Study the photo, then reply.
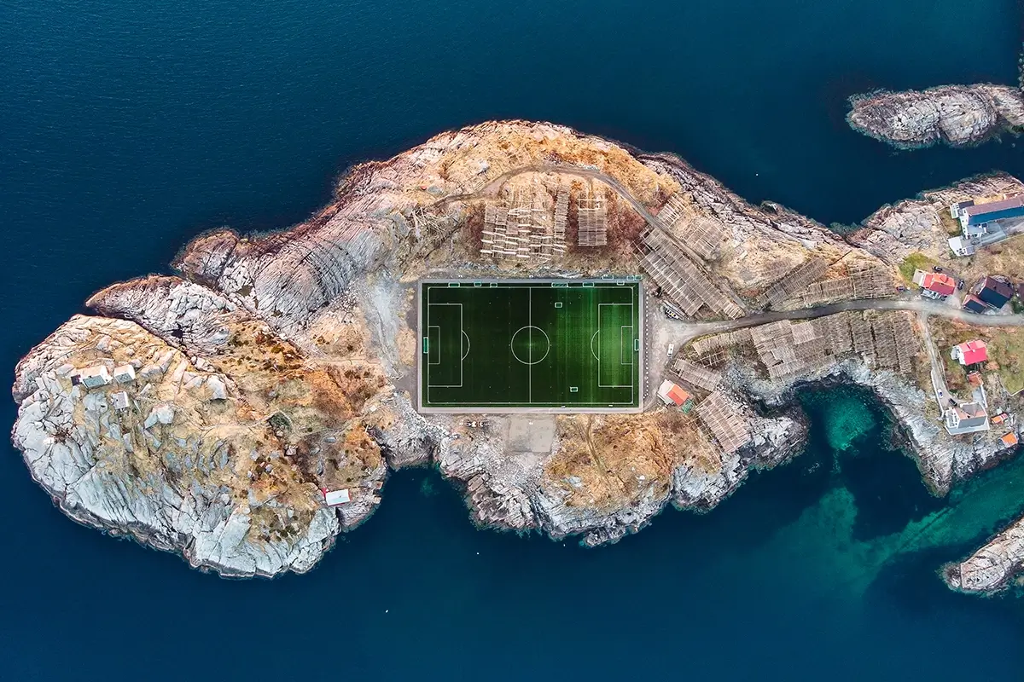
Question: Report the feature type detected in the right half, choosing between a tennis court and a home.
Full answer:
It is a home that can be seen in the right half.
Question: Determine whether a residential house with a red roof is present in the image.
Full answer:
Yes, there is a residential house with a red roof in the image.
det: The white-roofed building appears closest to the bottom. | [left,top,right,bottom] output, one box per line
[322,487,352,506]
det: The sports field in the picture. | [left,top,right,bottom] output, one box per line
[418,278,643,414]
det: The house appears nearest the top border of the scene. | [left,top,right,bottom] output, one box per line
[944,189,1024,242]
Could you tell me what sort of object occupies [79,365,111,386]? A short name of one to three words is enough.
building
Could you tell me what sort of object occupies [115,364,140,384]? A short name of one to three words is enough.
building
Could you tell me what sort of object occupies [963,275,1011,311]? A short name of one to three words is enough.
house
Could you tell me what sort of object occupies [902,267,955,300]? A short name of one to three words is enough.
house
